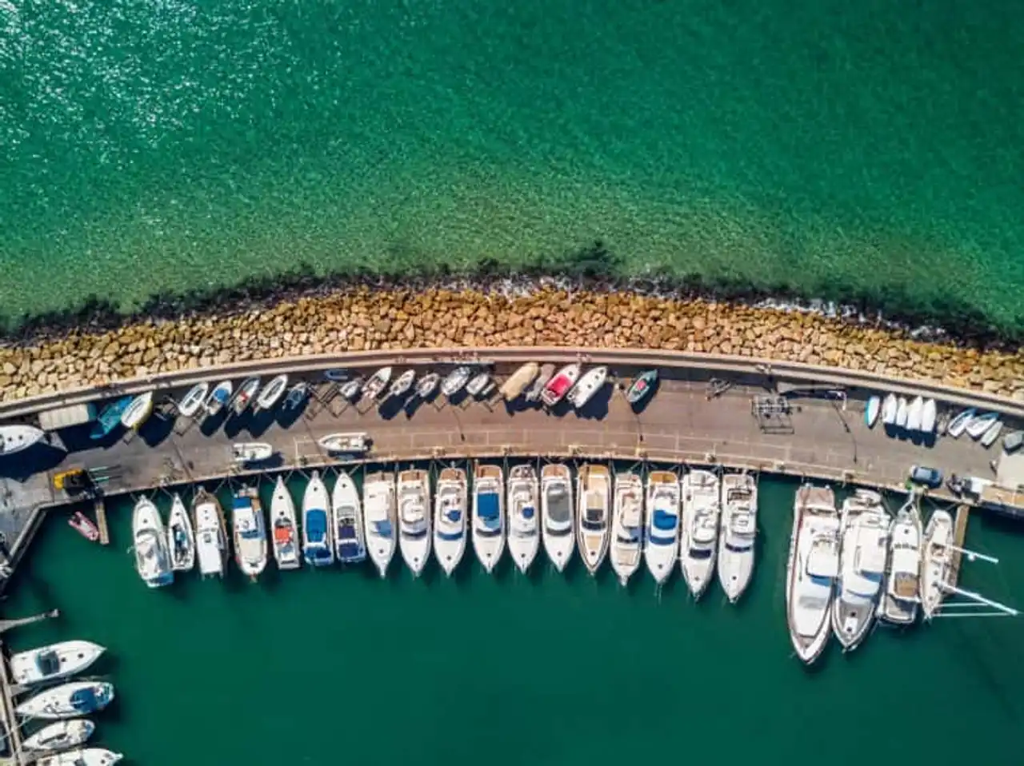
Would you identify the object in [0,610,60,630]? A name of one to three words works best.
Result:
pier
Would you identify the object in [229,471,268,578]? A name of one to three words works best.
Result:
boat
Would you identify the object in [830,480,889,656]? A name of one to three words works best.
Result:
boat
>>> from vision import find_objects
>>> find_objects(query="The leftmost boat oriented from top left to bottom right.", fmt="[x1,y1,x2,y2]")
[65,510,100,539]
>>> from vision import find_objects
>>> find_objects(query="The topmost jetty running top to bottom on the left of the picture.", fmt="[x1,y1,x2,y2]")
[94,497,112,545]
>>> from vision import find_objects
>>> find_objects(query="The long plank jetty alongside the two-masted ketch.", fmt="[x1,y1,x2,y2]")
[946,502,969,591]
